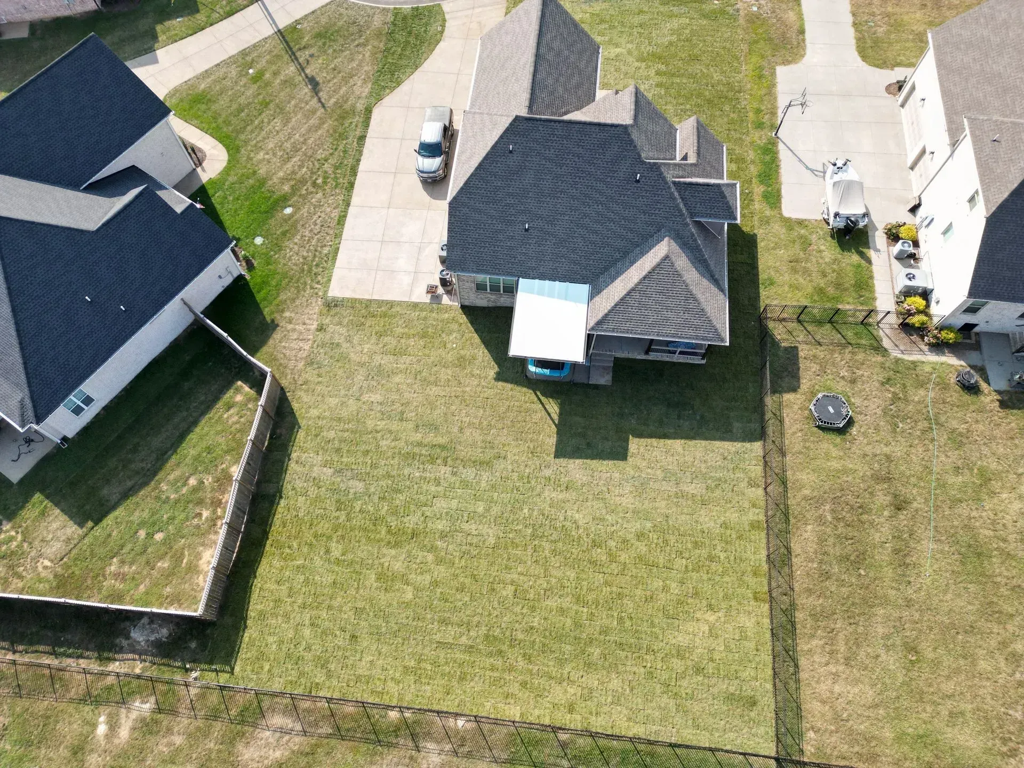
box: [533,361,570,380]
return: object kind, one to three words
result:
trampoline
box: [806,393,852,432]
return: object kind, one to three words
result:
trampoline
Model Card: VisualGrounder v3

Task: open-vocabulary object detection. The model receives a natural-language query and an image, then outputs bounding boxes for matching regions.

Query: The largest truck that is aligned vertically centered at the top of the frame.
[415,109,454,181]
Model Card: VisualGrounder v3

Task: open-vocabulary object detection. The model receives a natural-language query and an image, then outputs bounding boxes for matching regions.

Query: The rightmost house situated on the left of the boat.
[445,0,743,385]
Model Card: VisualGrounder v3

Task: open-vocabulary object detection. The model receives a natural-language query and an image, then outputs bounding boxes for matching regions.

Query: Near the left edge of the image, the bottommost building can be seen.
[0,33,253,446]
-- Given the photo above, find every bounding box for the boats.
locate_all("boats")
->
[832,162,874,254]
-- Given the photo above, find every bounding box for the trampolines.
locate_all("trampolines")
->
[806,393,852,432]
[533,361,570,380]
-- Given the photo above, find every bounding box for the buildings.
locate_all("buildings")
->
[0,33,253,446]
[0,0,98,23]
[445,0,743,385]
[894,0,1024,333]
